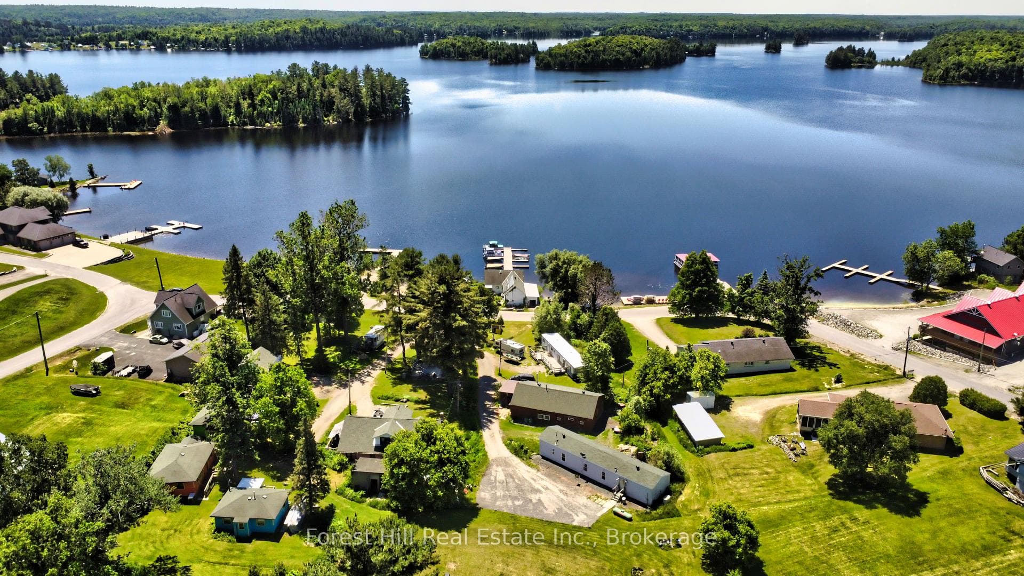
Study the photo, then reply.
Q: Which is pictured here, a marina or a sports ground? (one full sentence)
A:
This image shows a marina.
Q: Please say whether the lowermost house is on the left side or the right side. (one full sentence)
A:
The lowermost house appears in the left half of the scene.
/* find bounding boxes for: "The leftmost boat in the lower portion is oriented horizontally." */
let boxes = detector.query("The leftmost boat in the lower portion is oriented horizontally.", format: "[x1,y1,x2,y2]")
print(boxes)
[62,383,106,396]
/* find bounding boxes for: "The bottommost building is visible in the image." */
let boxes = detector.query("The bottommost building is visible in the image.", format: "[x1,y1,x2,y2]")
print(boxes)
[211,478,291,543]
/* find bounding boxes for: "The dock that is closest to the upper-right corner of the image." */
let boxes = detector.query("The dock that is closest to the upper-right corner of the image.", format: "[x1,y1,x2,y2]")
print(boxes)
[818,259,910,285]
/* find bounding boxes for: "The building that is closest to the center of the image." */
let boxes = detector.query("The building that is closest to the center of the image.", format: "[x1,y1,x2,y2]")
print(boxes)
[485,266,540,305]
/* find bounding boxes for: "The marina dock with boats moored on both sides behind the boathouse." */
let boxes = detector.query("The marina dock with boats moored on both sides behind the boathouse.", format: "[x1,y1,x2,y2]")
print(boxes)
[486,248,528,270]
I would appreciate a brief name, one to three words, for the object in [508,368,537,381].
vehicle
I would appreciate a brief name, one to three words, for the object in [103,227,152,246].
pier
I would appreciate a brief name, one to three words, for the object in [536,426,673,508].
house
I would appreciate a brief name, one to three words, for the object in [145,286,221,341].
building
